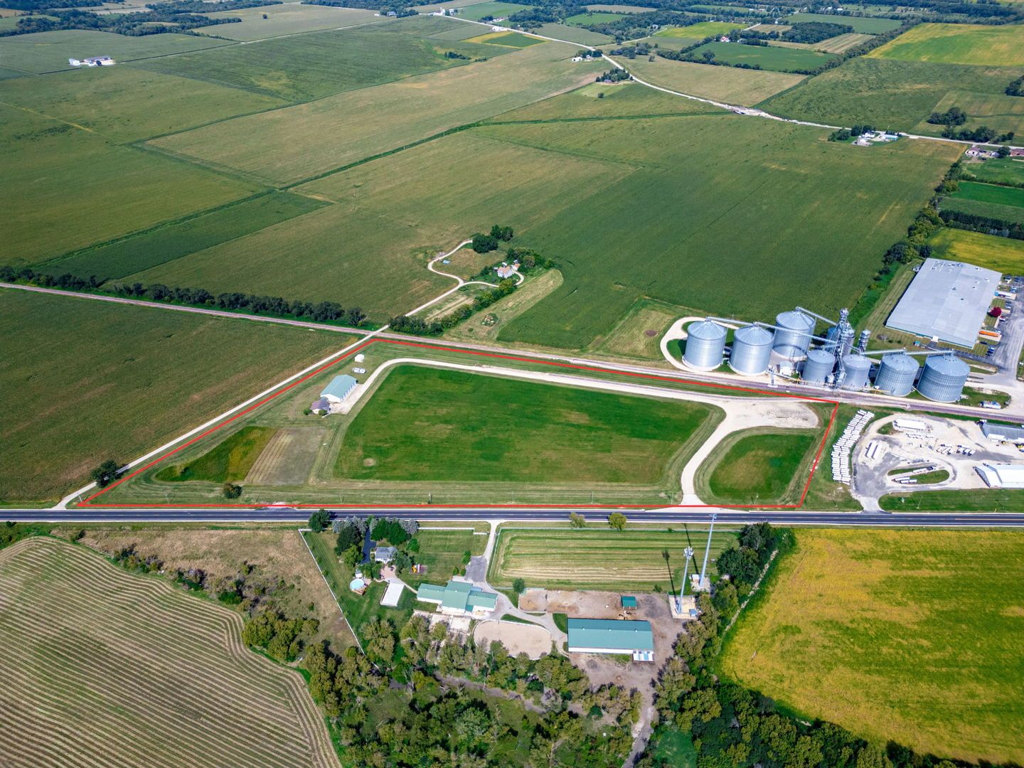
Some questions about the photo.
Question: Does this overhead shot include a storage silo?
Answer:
Yes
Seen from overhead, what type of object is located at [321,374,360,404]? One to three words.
barn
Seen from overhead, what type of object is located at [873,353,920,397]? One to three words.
silo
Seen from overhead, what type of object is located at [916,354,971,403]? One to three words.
silo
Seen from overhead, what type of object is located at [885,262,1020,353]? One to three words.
building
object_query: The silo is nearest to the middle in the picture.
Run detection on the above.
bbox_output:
[681,319,727,368]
